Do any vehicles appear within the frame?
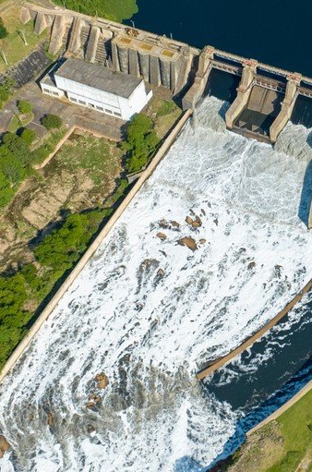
No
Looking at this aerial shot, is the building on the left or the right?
left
